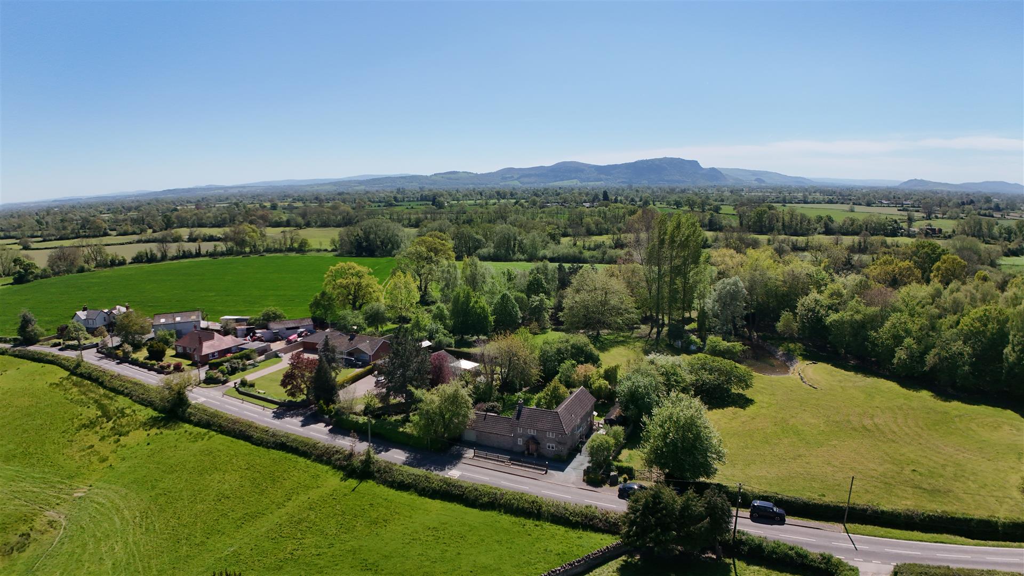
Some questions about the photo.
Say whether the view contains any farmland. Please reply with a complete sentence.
Yes, farmland can be seen from above here.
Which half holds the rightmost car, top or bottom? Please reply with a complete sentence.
The bottom half of the photo is where the rightmost car is.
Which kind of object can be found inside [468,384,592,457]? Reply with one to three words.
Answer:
house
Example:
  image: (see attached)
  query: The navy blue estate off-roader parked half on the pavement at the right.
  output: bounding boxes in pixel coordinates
[746,500,786,524]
